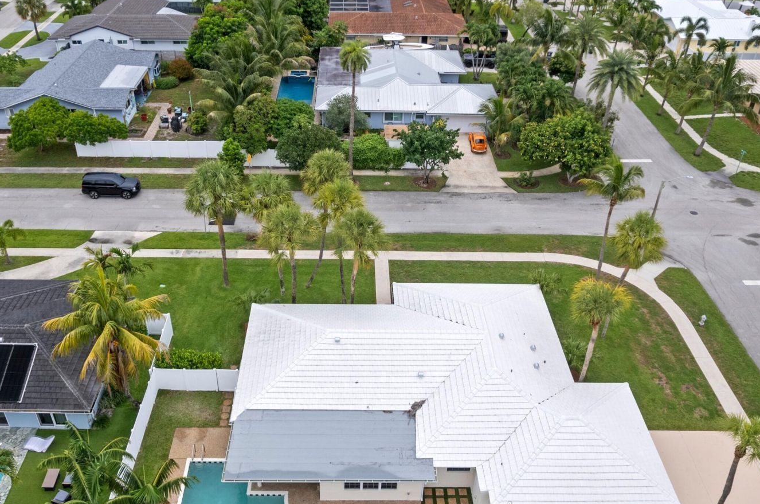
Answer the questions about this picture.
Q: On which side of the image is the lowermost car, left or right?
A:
left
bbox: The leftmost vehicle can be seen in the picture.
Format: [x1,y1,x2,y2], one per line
[80,171,145,200]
